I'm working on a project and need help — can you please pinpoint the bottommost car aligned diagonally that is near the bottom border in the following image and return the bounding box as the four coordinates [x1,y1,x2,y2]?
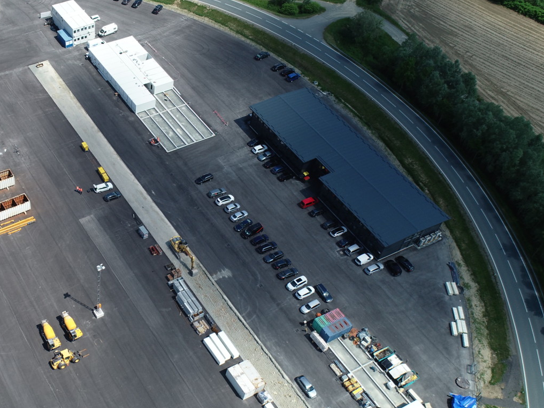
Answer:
[293,374,319,398]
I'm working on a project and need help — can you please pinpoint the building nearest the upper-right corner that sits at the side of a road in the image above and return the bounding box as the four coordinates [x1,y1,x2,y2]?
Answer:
[244,89,450,260]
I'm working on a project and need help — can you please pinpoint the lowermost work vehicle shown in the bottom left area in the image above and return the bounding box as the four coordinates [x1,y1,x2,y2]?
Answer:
[48,346,90,372]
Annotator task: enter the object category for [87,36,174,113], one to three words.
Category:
building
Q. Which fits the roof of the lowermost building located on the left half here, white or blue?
white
